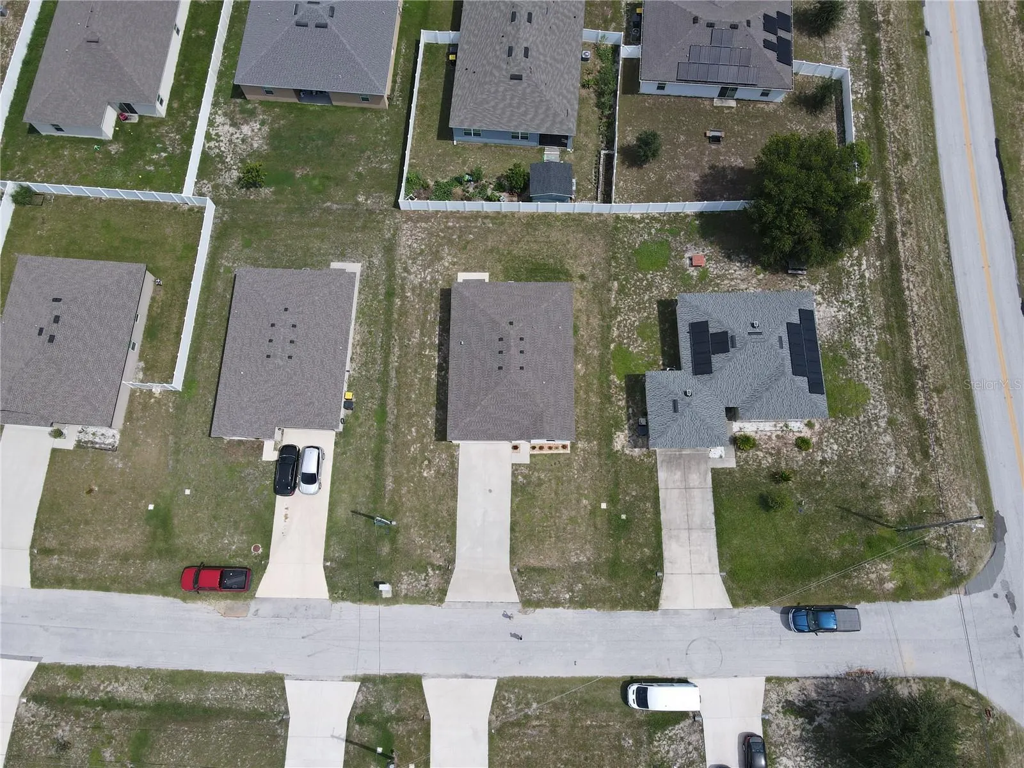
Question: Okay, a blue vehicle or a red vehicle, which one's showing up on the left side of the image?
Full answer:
Looking on the left side of the image, you will find a red vehicle.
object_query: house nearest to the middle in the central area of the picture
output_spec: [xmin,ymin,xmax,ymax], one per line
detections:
[446,282,578,445]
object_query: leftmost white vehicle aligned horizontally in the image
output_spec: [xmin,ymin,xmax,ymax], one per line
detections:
[625,680,704,714]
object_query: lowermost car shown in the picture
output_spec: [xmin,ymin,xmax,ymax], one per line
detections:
[741,734,768,768]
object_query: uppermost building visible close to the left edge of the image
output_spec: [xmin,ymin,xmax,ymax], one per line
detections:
[21,0,193,139]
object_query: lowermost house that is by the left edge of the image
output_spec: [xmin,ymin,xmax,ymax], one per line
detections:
[0,255,152,427]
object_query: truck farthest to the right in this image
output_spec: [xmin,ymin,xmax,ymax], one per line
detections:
[785,605,865,636]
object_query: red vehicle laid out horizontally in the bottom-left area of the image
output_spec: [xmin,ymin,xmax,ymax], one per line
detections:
[179,564,254,594]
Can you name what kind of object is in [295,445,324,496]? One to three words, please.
car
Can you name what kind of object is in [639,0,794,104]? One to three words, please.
house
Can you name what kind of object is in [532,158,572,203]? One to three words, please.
shed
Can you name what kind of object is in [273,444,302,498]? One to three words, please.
car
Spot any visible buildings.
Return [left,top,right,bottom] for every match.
[235,0,403,108]
[21,0,193,139]
[449,0,583,147]
[643,292,830,448]
[446,282,578,445]
[639,0,794,104]
[532,158,572,203]
[210,268,357,440]
[0,255,152,427]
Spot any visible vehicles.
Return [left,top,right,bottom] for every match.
[625,680,704,714]
[741,734,768,768]
[295,445,324,496]
[785,605,865,636]
[273,444,302,498]
[179,564,254,594]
